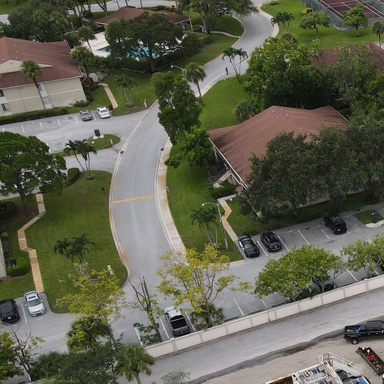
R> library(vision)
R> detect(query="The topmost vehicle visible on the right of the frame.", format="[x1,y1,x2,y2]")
[324,213,345,231]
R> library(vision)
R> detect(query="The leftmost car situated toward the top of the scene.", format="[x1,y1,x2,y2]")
[78,106,93,118]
